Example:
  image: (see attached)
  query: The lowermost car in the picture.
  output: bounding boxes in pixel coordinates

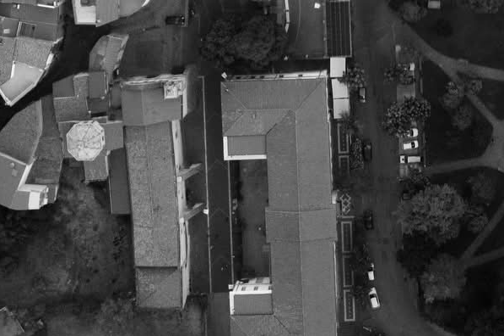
[368,286,382,309]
